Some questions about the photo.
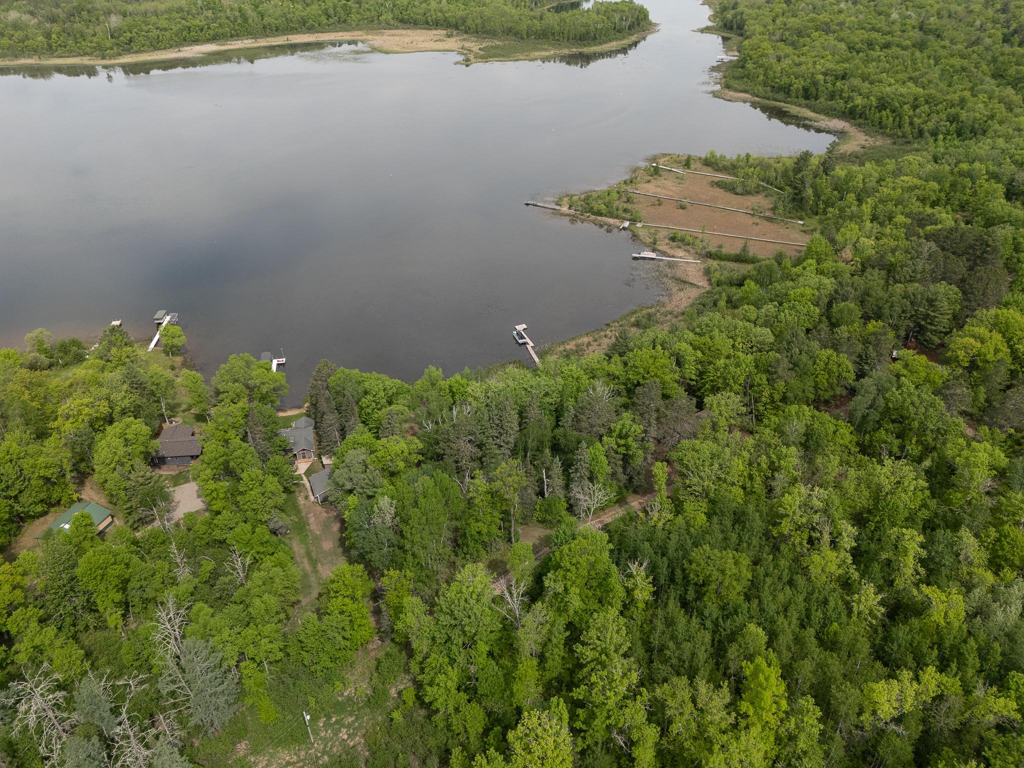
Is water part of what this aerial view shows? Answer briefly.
Yes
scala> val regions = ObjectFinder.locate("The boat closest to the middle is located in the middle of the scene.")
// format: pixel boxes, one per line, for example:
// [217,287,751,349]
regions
[512,331,527,344]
